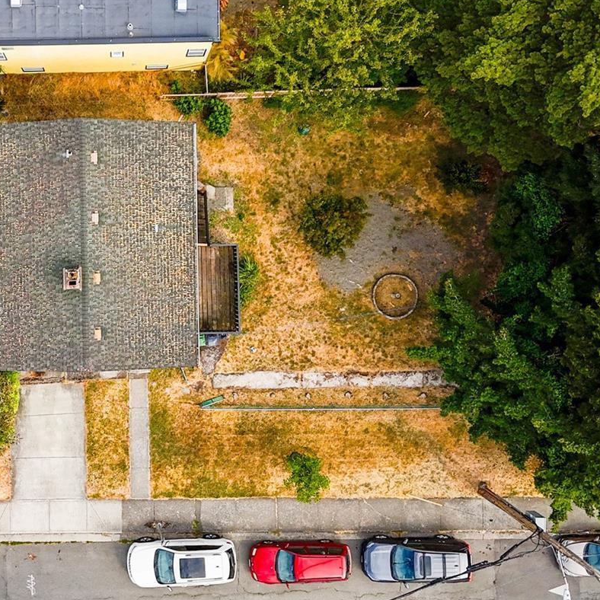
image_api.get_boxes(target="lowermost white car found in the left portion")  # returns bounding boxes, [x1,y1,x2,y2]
[127,535,233,590]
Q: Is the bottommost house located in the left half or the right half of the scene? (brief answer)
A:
left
